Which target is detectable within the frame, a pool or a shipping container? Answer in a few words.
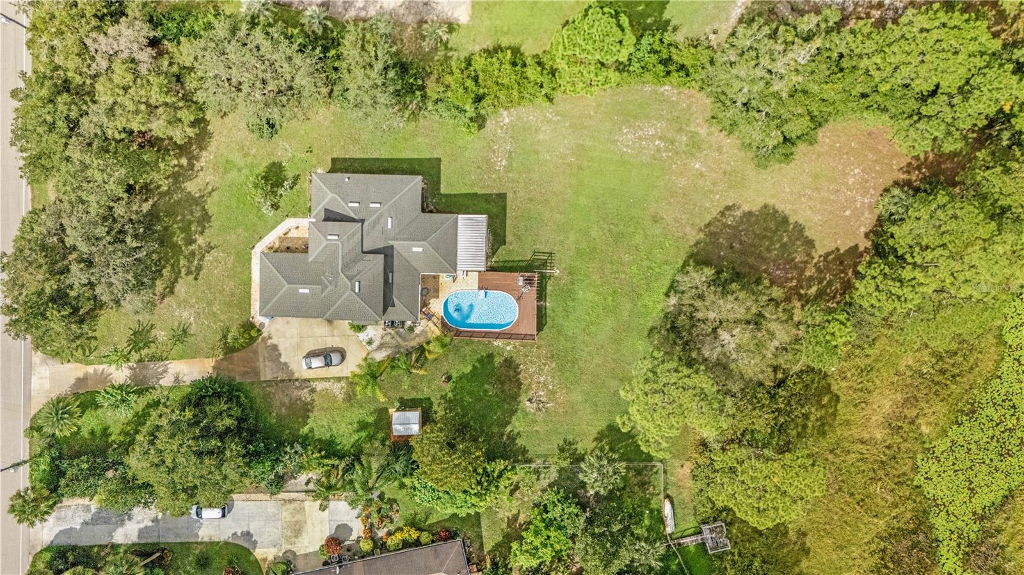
pool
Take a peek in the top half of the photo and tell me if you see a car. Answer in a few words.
No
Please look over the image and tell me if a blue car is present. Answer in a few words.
No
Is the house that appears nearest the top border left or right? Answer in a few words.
left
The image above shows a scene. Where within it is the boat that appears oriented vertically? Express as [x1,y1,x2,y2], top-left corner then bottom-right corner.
[665,499,678,534]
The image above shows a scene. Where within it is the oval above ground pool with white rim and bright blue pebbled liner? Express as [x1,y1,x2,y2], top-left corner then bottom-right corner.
[442,290,519,330]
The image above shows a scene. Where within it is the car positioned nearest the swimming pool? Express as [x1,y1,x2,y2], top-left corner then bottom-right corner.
[302,351,344,369]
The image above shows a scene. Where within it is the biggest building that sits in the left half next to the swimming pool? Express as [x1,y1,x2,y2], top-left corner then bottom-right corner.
[258,172,458,324]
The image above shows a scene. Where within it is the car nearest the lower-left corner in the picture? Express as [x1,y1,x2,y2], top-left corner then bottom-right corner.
[192,504,228,522]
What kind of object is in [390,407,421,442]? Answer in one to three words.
shed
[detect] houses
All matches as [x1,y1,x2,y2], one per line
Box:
[258,172,458,324]
[290,539,470,575]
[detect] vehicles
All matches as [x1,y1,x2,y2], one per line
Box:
[192,504,228,522]
[302,351,344,369]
